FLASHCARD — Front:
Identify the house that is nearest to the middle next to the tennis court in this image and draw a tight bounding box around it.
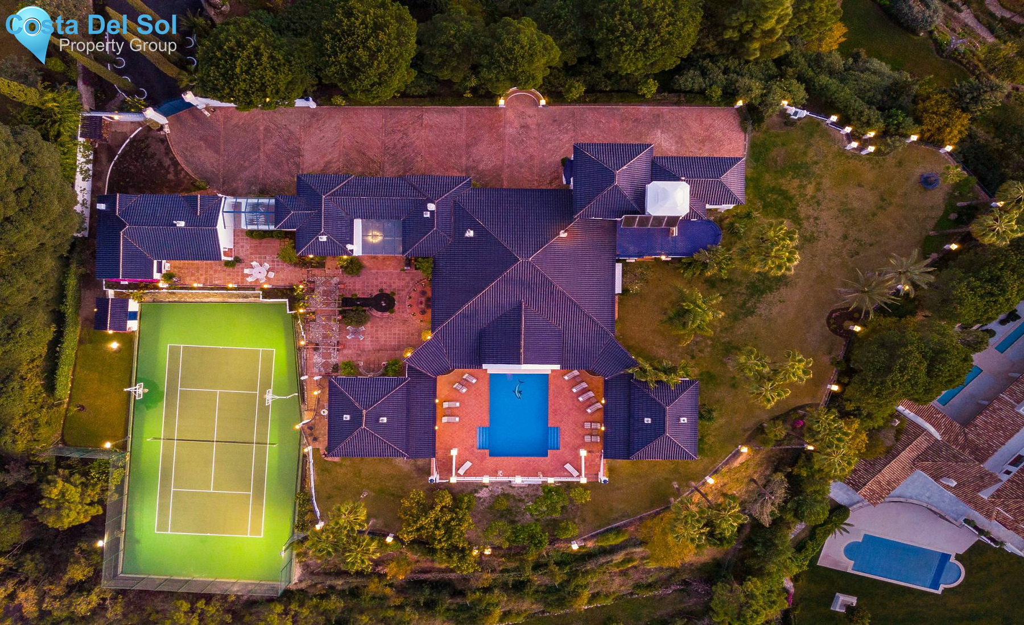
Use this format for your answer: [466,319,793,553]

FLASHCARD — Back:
[274,142,746,460]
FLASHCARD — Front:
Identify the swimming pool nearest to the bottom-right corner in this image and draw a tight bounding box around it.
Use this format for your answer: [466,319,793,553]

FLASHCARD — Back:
[839,531,965,593]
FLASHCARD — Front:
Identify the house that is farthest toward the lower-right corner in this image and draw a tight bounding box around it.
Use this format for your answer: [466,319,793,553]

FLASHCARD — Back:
[839,376,1024,539]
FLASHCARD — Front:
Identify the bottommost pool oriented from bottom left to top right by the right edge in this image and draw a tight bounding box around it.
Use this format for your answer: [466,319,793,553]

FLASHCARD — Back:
[948,364,984,404]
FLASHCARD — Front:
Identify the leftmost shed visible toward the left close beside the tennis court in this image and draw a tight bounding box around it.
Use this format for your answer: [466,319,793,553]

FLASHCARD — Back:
[93,291,149,331]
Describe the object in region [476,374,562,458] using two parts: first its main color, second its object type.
blue swimming pool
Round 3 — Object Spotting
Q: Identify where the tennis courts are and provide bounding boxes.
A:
[122,301,304,583]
